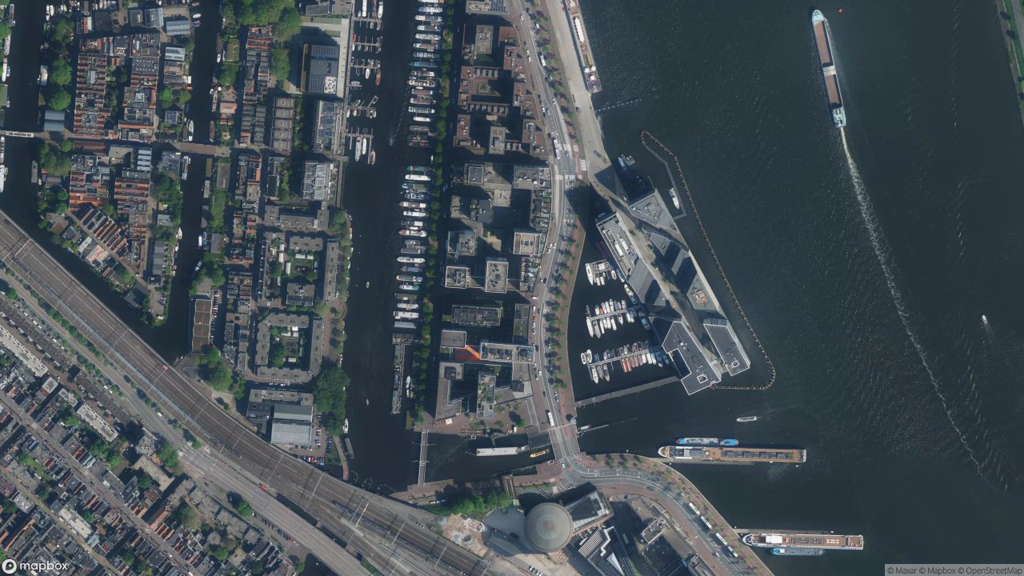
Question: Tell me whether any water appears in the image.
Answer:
Yes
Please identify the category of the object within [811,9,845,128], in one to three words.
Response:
ship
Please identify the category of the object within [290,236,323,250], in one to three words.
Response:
building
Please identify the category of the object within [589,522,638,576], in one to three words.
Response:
building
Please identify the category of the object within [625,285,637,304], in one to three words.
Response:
boat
